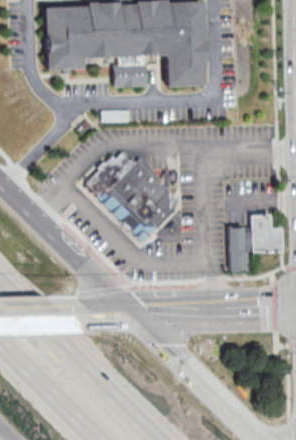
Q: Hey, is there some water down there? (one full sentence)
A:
No, the picture contains no water.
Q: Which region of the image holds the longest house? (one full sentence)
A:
The longest house is in the top part of the image.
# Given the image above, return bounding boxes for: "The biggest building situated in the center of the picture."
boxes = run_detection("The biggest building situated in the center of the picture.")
[84,150,178,240]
